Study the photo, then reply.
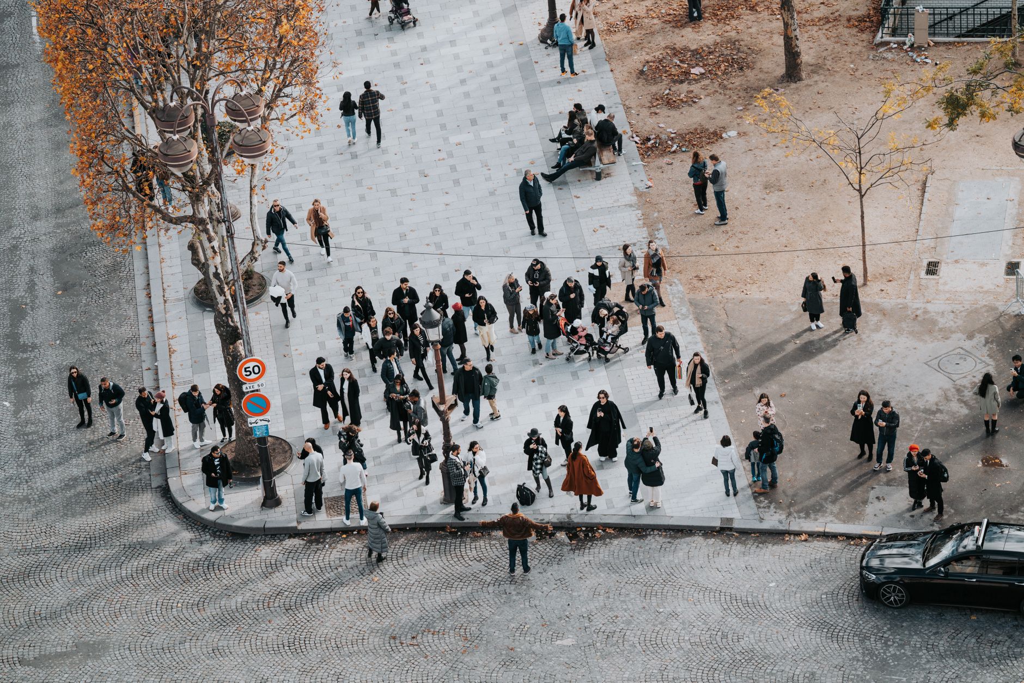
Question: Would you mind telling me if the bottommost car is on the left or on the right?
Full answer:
It is on the right.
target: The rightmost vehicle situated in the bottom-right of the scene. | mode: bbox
[856,510,1024,609]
